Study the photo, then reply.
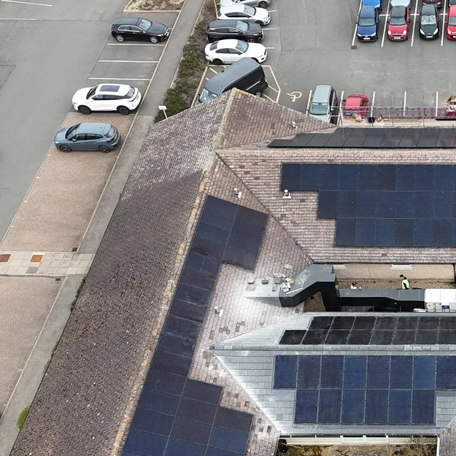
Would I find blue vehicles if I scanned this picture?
Yes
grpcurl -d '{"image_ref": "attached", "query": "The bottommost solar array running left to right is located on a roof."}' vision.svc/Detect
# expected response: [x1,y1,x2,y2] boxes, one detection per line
[272,356,456,425]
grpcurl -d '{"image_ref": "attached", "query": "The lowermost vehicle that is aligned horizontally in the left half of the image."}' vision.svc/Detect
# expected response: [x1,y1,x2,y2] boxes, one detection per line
[54,121,119,152]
